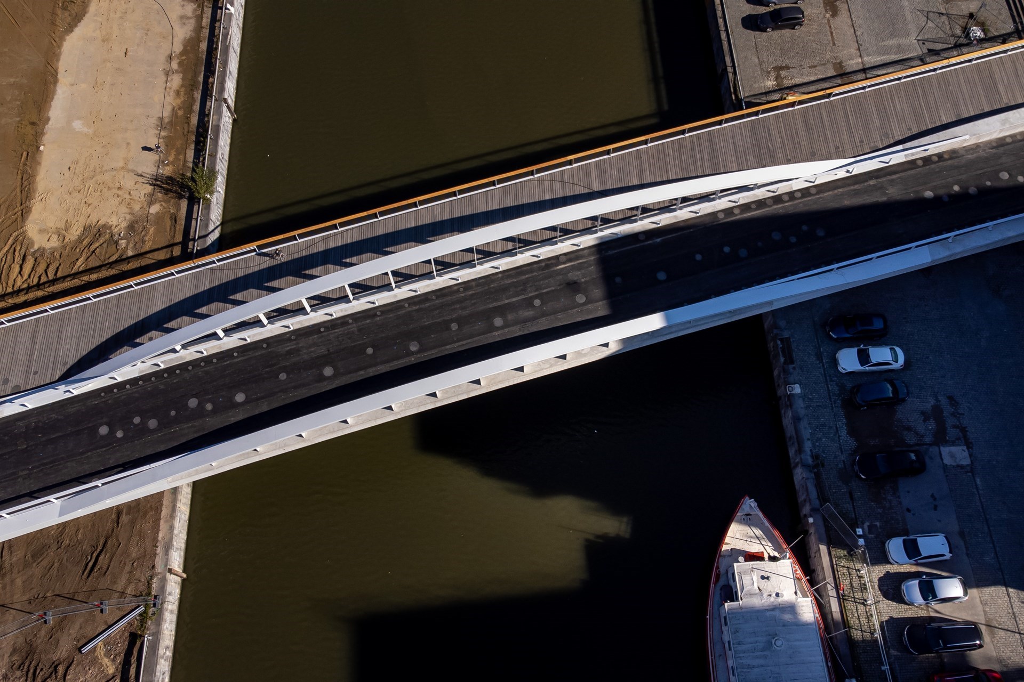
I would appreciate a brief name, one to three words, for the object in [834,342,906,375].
car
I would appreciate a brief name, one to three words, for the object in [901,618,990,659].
car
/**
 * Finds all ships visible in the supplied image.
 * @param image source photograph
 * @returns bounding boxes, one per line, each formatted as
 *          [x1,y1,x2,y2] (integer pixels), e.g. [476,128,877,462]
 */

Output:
[704,496,836,682]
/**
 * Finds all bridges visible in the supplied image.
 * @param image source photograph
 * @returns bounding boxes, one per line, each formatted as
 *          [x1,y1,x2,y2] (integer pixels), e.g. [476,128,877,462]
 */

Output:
[0,41,1024,545]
